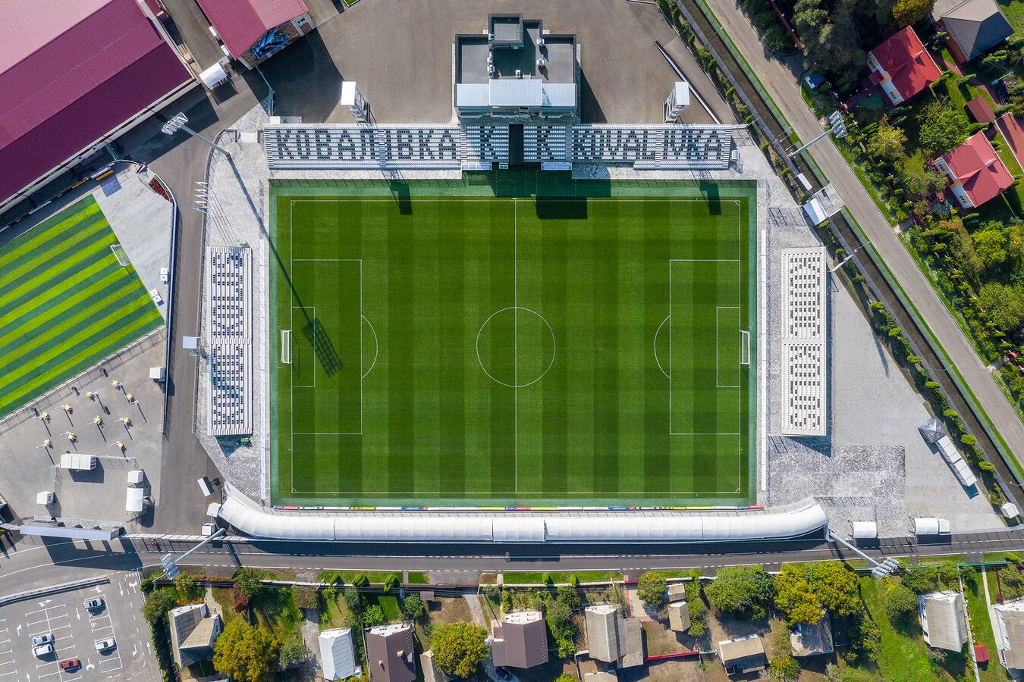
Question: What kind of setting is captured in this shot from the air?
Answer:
sports ground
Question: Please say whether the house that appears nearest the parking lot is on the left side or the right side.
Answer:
left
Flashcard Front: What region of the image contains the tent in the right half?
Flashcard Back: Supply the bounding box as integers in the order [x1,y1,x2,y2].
[915,417,946,443]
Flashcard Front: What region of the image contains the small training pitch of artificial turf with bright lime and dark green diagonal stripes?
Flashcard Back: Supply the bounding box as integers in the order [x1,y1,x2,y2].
[0,195,164,416]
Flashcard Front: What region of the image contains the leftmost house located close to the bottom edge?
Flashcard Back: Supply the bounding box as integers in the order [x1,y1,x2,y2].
[168,604,207,668]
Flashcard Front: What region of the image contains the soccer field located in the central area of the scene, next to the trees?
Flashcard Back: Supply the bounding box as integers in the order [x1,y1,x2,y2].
[269,169,757,507]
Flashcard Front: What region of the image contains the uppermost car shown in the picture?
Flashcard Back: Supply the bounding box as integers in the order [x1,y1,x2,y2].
[82,599,103,611]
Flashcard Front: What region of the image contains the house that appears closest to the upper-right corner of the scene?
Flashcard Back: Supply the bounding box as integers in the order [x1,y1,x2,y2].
[938,0,1015,66]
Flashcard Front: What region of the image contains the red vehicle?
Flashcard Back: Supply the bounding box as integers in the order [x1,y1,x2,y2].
[58,660,79,672]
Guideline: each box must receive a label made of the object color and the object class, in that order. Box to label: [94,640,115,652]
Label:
white vehicle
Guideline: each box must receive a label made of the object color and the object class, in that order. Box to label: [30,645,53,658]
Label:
white vehicle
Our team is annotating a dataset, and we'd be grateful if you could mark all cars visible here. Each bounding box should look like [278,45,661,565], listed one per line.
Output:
[94,640,115,652]
[493,669,513,682]
[82,599,103,611]
[30,645,53,658]
[31,635,52,647]
[58,660,79,672]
